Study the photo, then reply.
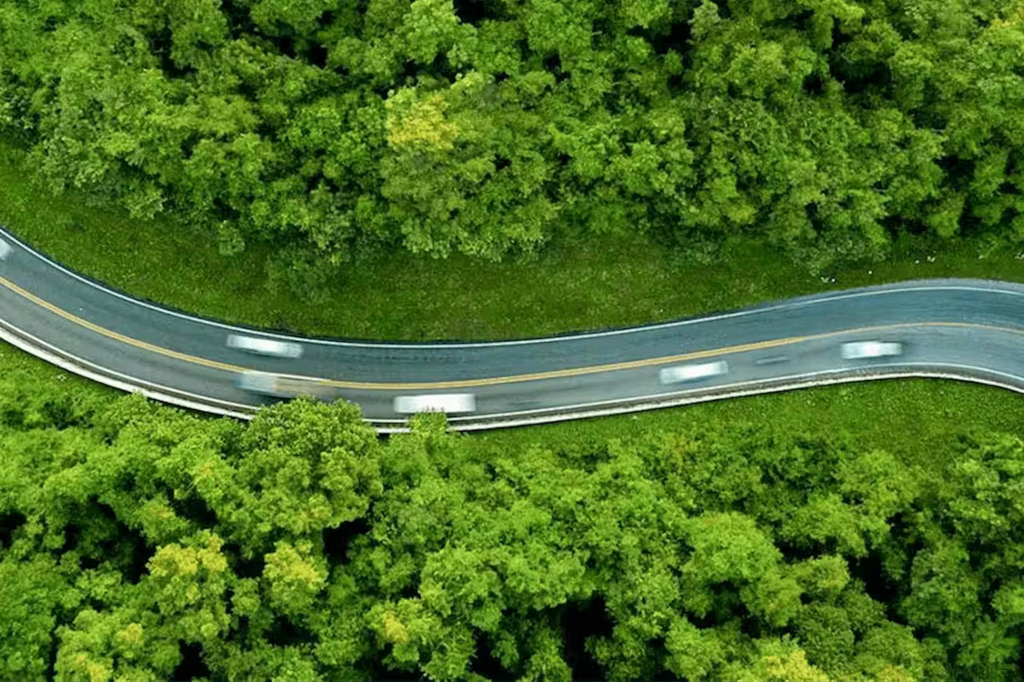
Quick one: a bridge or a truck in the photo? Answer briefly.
truck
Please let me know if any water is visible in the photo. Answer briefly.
No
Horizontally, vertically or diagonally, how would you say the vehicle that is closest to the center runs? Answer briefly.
horizontally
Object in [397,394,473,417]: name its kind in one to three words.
vehicle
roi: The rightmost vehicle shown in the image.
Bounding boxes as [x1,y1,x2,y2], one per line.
[842,340,899,361]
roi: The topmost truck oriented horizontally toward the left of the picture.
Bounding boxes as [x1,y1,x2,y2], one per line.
[235,334,296,359]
